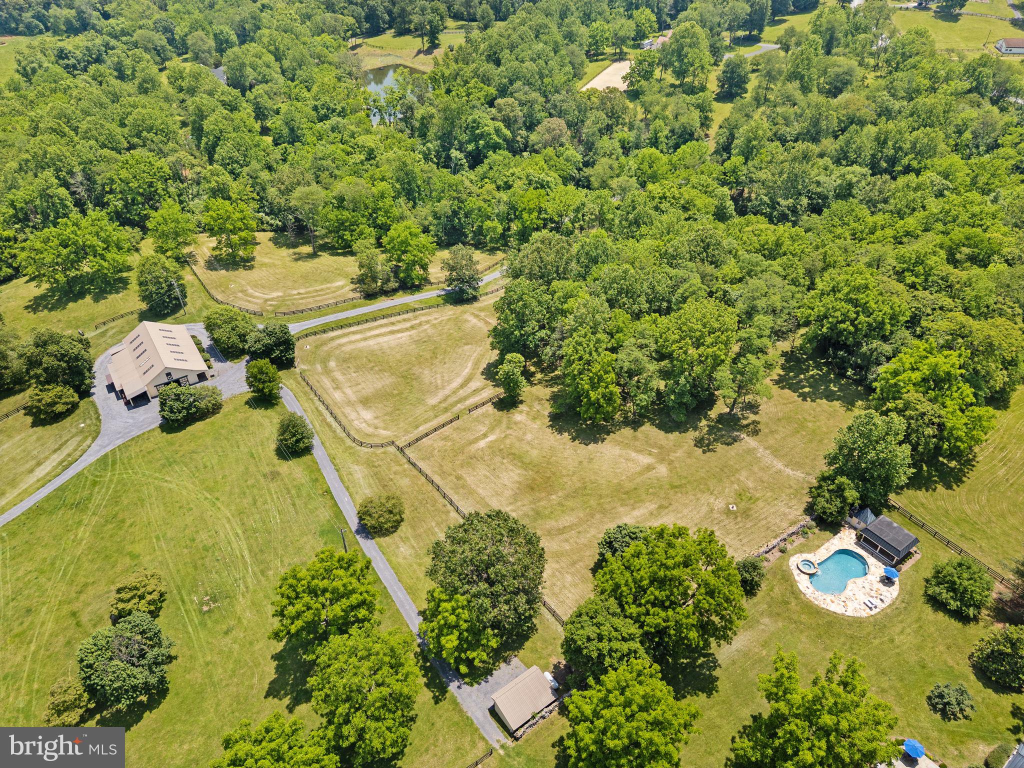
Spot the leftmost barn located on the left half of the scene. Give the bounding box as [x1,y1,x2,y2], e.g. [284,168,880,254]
[108,320,210,409]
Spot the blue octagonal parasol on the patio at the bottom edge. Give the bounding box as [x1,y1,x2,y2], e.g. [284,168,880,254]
[904,740,924,760]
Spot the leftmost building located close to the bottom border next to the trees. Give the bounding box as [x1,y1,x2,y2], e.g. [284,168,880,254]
[492,665,558,730]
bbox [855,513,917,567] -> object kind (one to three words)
building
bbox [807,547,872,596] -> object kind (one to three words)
swimming pool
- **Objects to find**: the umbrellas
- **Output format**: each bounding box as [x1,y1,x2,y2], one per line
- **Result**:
[883,566,899,580]
[904,740,924,760]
